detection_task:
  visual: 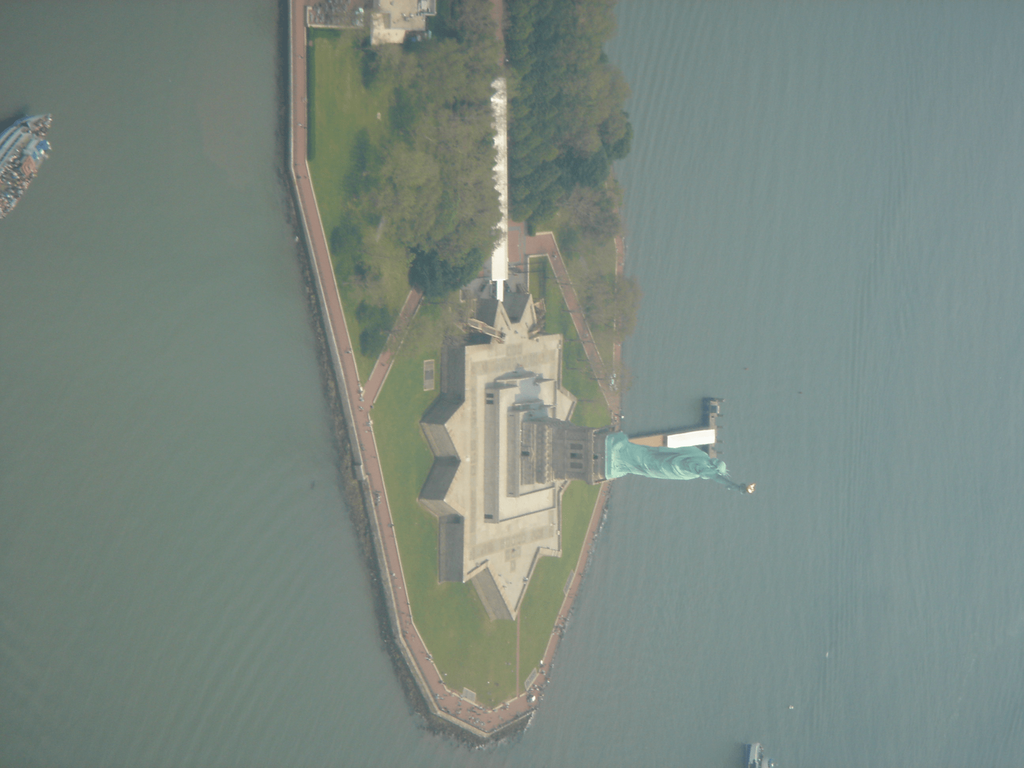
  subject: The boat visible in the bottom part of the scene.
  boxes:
[746,739,768,768]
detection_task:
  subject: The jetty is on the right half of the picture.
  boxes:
[662,397,726,460]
